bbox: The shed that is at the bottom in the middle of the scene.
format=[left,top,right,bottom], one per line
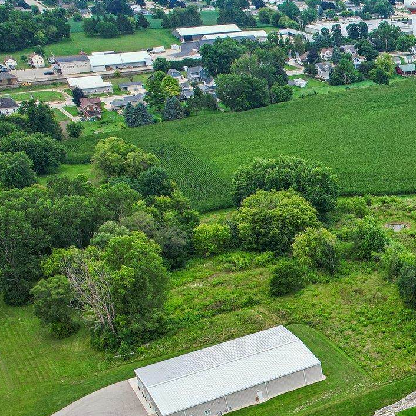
[134,325,322,416]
